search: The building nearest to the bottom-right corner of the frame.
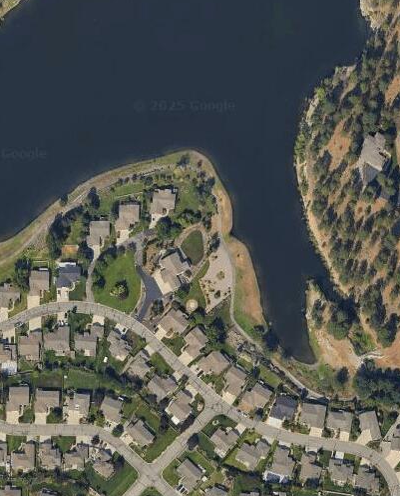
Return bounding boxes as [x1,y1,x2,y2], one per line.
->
[357,466,382,493]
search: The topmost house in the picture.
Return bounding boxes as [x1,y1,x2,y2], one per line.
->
[360,134,391,168]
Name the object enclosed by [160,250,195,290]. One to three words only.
house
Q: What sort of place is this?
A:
residential area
